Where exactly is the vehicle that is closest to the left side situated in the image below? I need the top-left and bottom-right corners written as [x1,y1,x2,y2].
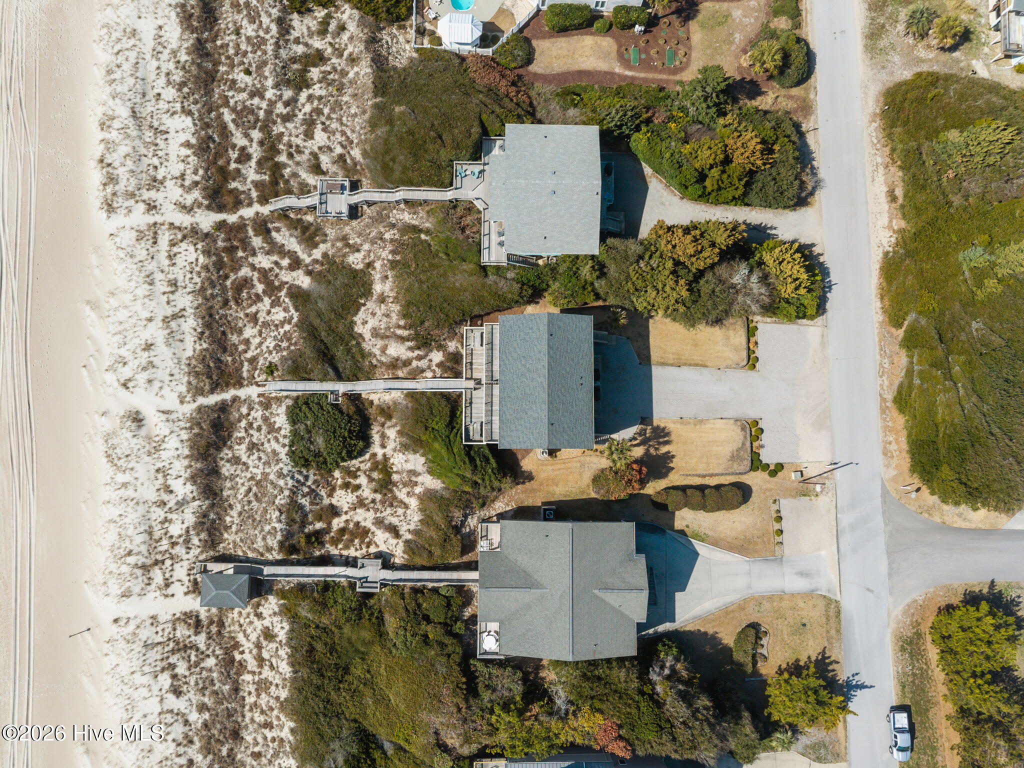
[886,709,913,760]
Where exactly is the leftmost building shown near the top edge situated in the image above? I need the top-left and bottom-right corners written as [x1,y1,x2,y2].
[438,12,482,55]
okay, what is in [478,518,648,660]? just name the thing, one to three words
house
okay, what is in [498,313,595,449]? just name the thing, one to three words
house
